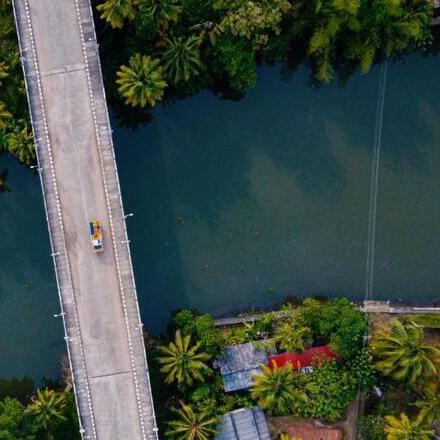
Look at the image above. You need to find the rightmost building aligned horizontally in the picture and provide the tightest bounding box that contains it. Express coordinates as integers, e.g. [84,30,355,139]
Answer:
[301,344,339,364]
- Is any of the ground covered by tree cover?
Yes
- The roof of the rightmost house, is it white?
No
